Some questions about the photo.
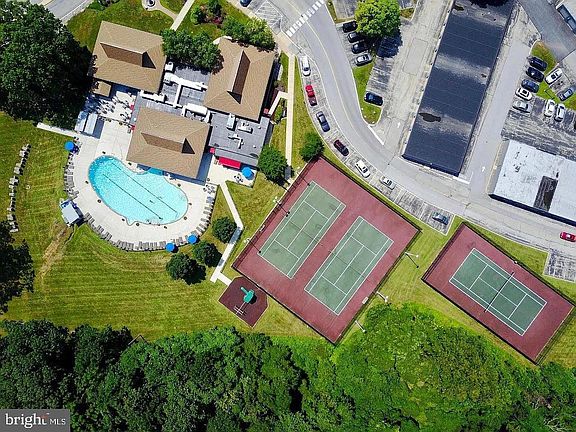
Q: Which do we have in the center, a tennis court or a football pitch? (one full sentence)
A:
The feature located in the center is a tennis court.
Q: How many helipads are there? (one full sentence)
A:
There are no helipads in this view.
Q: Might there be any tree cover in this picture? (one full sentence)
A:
Yes, there's tree cover in this view.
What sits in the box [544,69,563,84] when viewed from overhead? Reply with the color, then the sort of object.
white car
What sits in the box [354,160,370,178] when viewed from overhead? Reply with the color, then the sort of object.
white car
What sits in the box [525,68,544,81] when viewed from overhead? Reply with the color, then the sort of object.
black vehicle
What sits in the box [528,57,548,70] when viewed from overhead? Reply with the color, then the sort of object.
black vehicle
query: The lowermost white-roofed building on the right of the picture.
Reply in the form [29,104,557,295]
[486,139,576,225]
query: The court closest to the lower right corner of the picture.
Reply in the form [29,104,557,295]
[424,225,576,362]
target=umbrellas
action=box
[188,234,198,244]
[65,141,76,151]
[242,166,253,178]
[166,242,176,253]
